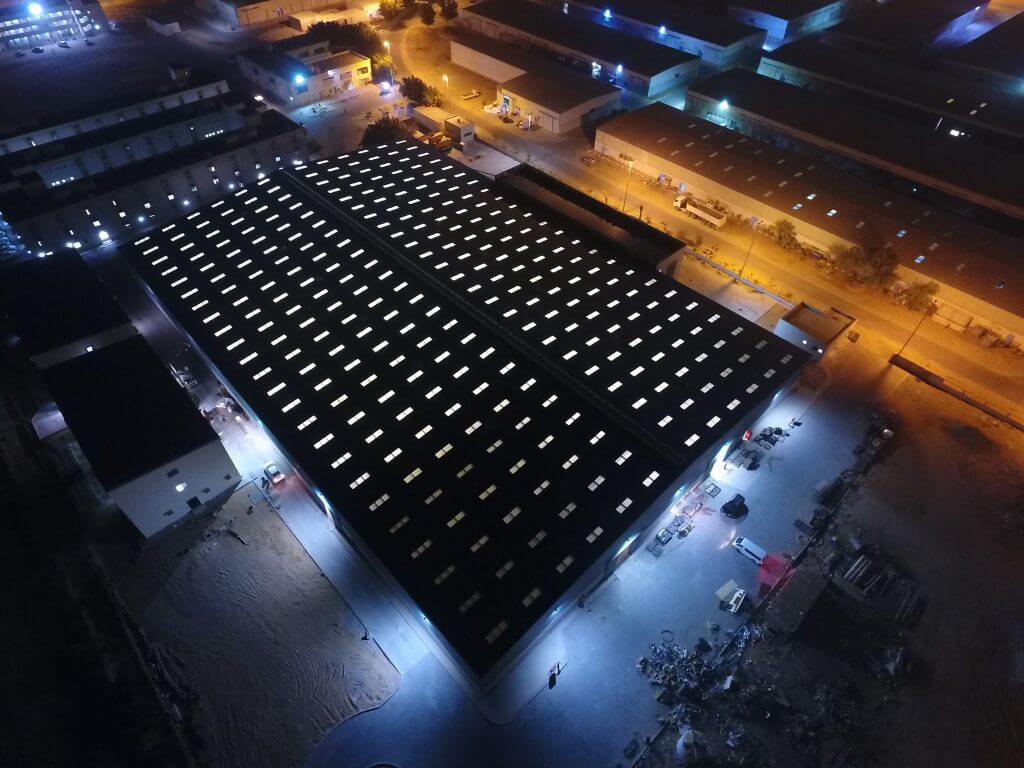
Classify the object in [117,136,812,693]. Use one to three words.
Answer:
warehouse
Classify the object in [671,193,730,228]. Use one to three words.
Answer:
truck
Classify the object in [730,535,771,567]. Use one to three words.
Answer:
vehicle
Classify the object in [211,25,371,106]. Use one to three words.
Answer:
building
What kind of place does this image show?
industrial area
